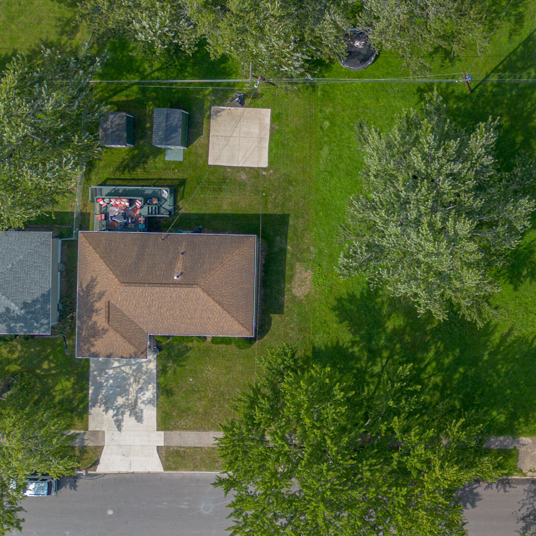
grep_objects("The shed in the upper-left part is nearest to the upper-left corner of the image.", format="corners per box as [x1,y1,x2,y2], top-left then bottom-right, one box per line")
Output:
[100,112,135,146]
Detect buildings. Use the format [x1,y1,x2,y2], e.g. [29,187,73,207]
[75,232,261,360]
[0,231,64,335]
[152,107,190,146]
[100,112,135,146]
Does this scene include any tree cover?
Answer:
Yes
